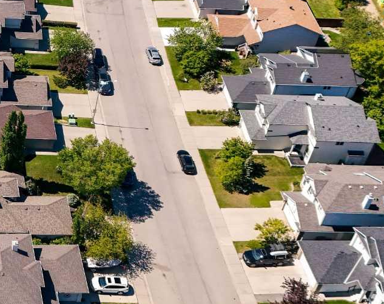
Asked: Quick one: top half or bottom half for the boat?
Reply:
bottom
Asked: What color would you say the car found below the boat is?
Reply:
white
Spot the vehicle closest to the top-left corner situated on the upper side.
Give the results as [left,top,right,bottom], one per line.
[93,49,106,68]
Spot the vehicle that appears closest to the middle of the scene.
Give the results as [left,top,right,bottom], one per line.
[176,148,196,176]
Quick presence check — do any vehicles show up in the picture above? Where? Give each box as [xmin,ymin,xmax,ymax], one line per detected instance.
[91,274,132,294]
[146,46,161,66]
[176,148,196,176]
[245,246,288,265]
[97,73,111,94]
[93,49,106,68]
